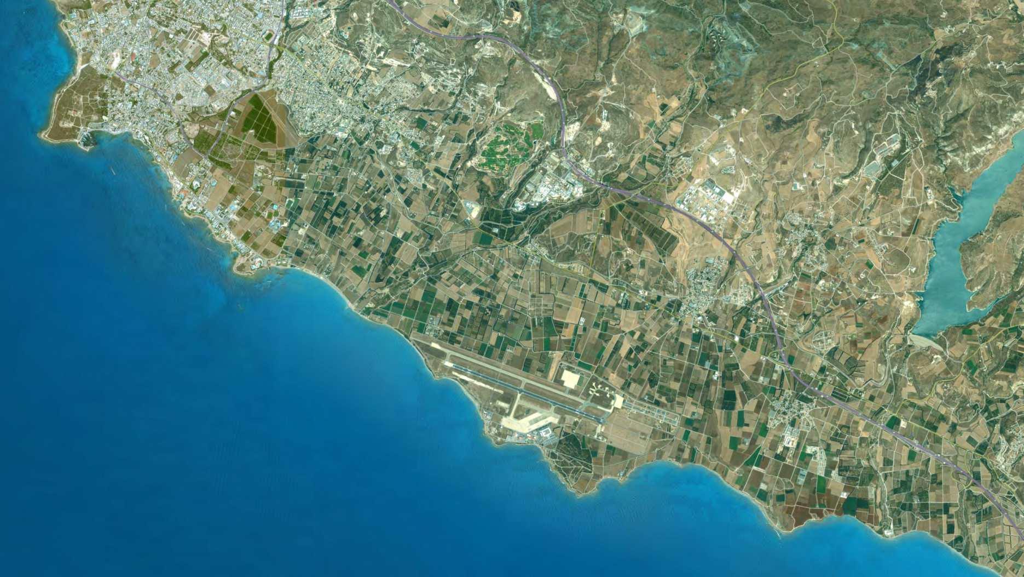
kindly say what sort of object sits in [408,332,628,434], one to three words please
airport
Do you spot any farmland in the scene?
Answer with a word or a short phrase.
Yes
